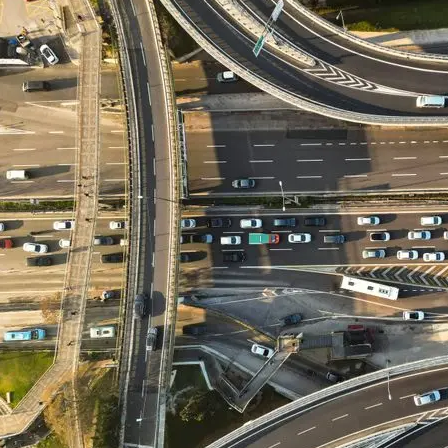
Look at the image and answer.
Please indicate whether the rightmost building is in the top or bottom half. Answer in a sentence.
It is in the bottom half that the rightmost building appears.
